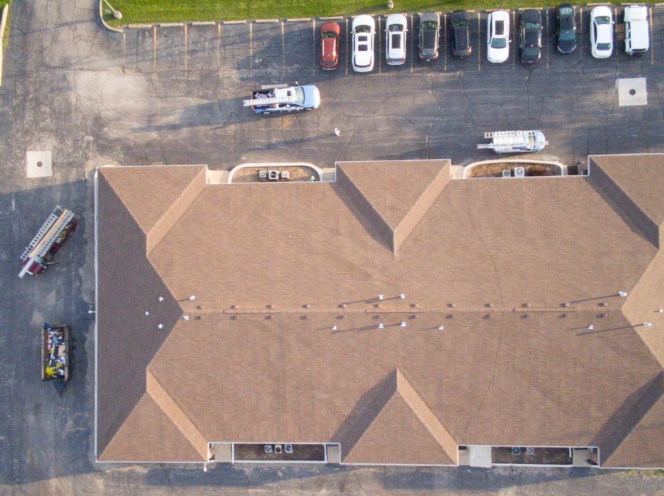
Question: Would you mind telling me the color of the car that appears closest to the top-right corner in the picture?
white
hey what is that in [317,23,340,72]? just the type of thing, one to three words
car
